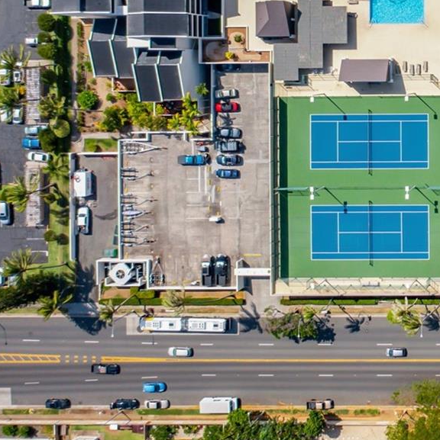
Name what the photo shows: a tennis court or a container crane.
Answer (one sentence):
The image shows a tennis court.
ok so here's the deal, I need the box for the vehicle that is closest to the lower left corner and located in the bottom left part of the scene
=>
[45,398,72,411]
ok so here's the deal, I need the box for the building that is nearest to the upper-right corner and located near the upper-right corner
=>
[339,60,391,82]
